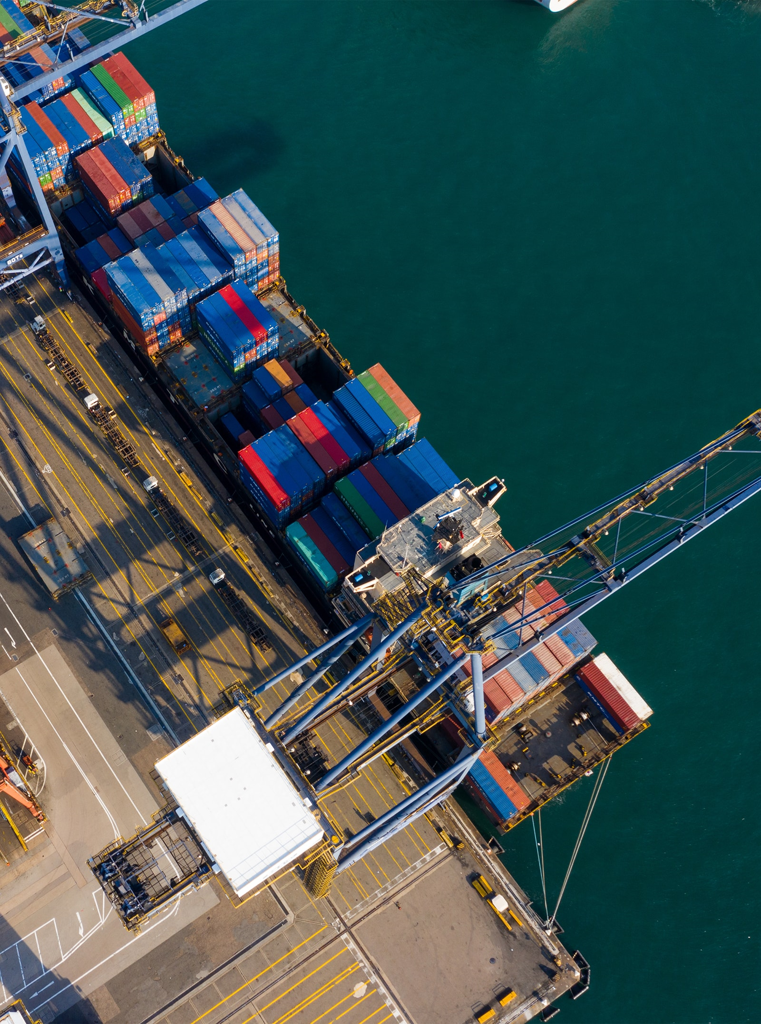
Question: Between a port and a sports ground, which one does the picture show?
port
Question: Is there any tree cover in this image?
No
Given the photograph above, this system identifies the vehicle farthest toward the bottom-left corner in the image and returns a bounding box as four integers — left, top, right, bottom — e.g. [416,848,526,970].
[0,750,45,825]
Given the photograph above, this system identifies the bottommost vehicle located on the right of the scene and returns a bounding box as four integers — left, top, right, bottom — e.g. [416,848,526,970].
[469,863,524,940]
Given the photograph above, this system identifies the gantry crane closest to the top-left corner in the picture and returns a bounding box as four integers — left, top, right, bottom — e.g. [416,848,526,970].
[0,0,220,303]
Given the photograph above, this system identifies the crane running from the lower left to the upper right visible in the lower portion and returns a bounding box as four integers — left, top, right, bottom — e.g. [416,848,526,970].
[73,406,761,951]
